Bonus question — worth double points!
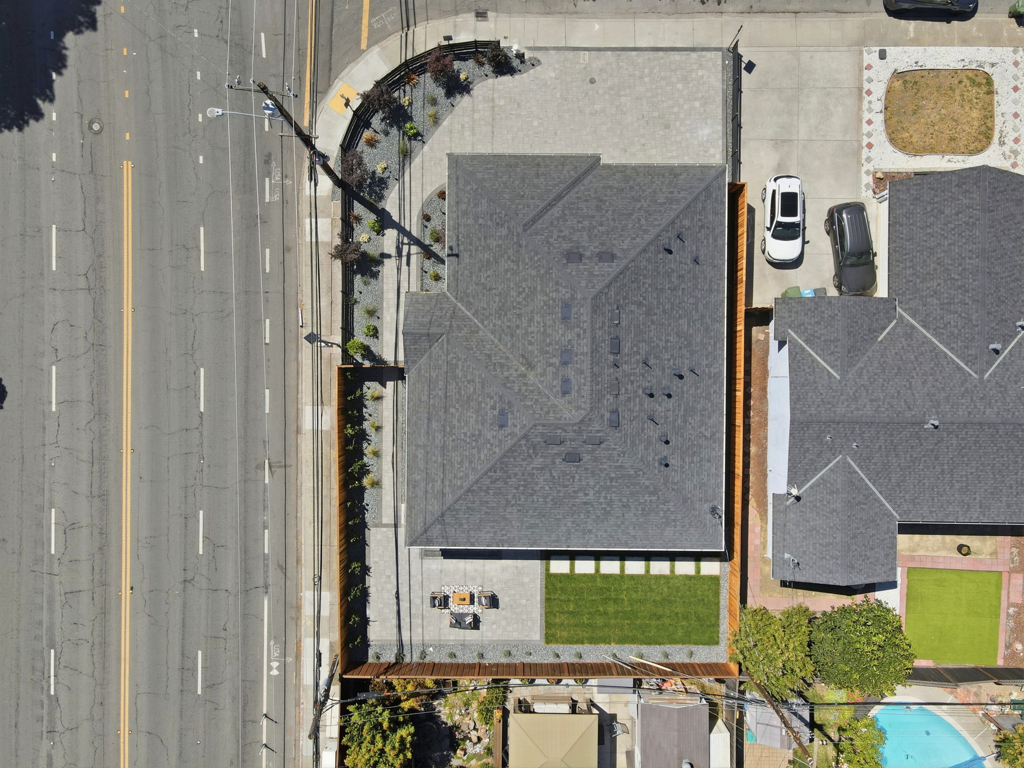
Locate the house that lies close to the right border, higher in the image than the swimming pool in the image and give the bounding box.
[759,164,1024,586]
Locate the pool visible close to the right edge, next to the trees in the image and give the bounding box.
[864,695,993,768]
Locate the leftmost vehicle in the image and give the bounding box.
[761,171,811,264]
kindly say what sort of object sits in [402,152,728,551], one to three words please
house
